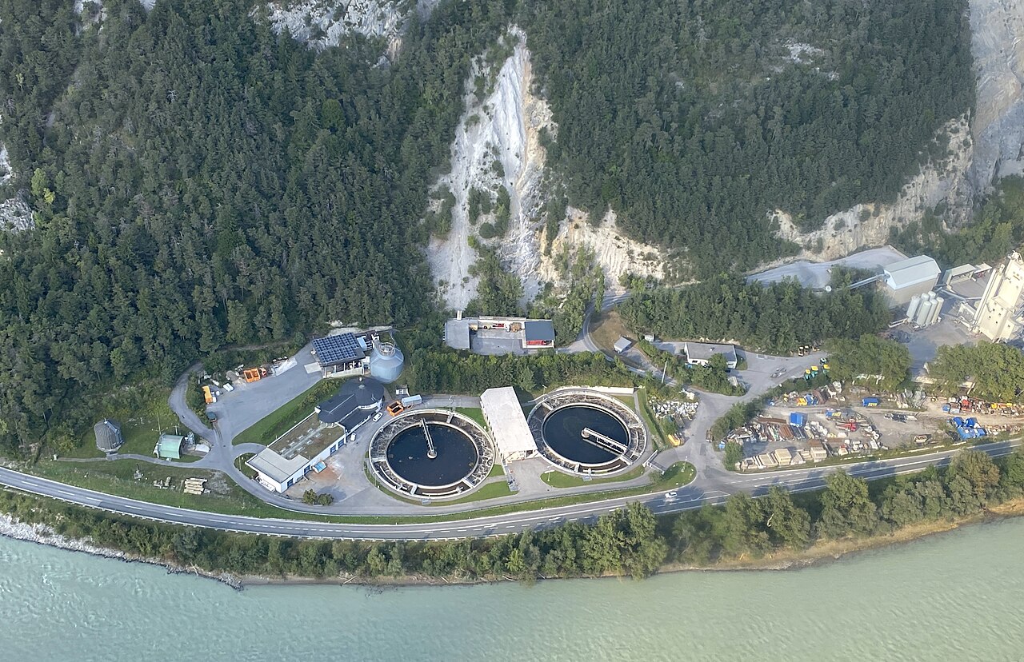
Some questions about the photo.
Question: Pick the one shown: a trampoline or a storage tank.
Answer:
storage tank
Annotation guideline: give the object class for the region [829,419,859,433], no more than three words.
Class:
vehicle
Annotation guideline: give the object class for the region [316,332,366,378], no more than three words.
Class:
shed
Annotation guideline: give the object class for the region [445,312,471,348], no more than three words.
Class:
building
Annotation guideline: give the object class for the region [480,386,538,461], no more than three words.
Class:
building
